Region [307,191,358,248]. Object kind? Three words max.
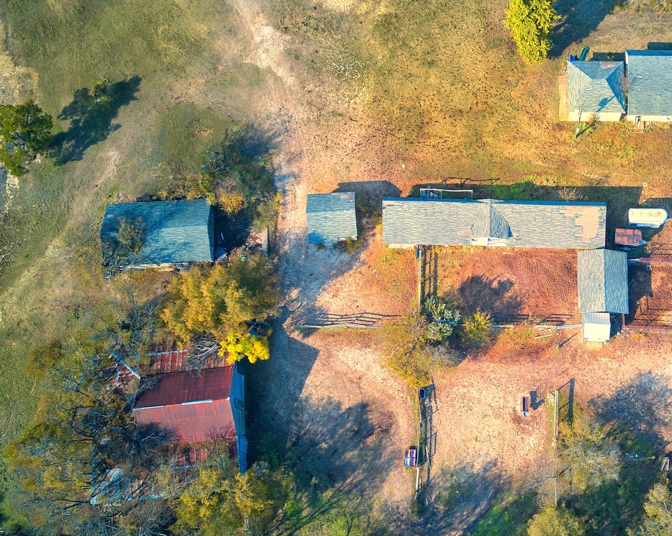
shed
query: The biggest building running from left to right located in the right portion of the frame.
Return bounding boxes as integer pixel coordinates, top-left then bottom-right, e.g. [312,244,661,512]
[381,195,606,257]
